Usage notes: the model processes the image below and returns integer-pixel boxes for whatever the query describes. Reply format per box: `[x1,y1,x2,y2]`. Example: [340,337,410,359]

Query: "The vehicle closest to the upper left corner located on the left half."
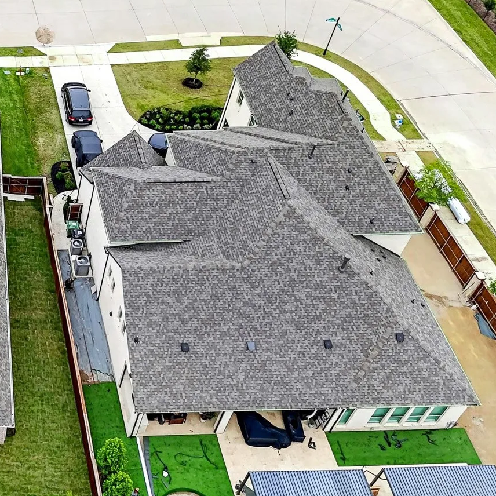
[60,83,97,132]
